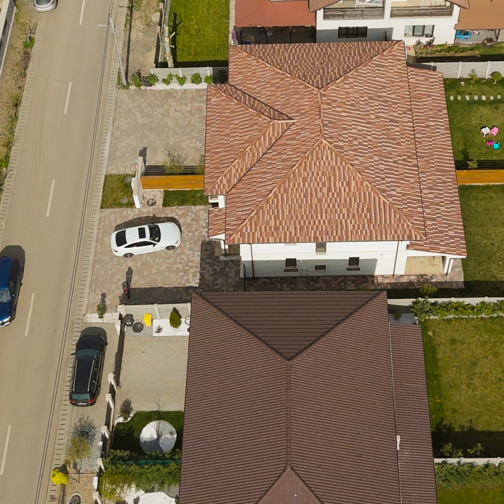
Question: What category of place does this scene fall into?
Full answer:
The picture captures a residential area.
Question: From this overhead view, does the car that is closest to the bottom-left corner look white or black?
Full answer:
From above, the car that is closest to the bottom-left corner appears black.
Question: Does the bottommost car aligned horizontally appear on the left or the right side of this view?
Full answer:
You can find the bottommost car aligned horizontally on the left side of the picture.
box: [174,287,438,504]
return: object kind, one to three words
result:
house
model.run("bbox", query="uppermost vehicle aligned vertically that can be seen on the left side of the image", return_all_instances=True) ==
[0,254,30,324]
